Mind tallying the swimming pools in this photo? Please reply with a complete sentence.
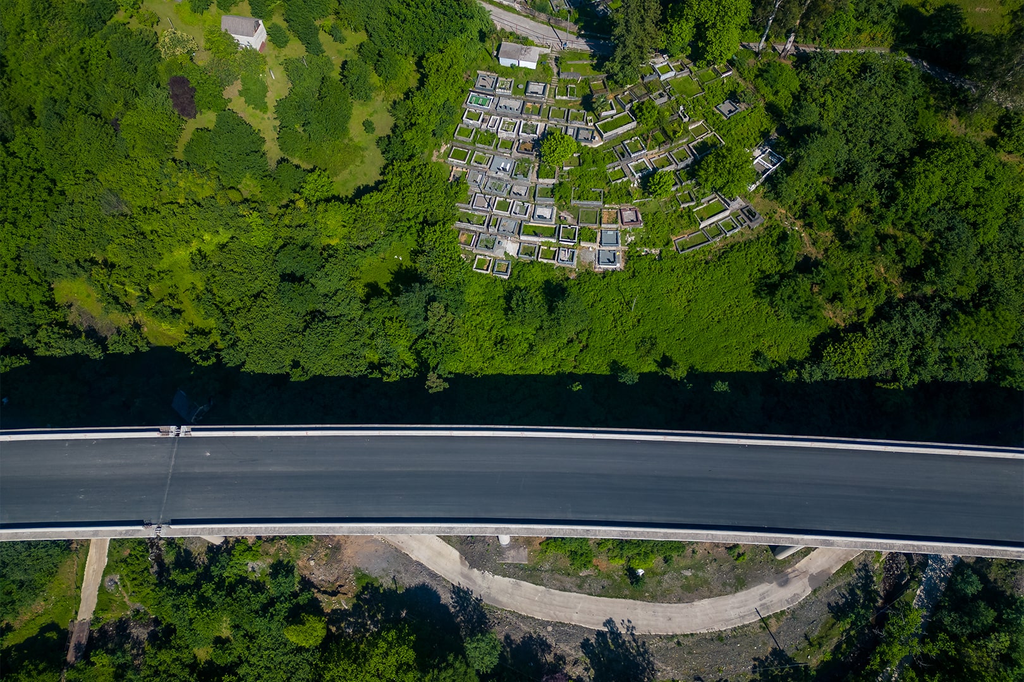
The count of swimming pools is 0.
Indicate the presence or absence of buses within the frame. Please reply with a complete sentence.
No, I can see no bus in this picture.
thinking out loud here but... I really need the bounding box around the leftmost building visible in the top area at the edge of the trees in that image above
[222,16,264,49]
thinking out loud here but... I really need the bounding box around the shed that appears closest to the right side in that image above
[499,40,548,69]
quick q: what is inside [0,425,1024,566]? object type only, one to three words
bridge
